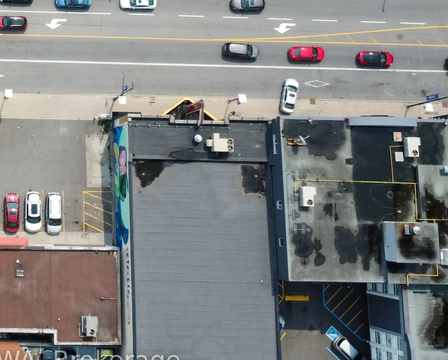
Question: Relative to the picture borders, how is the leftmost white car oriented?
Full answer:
The leftmost white car has been laid out up and down relative to the frame.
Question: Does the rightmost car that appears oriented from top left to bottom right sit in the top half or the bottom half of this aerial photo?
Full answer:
The rightmost car that appears oriented from top left to bottom right is in the bottom half of the image.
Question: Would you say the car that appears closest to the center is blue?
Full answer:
No, the color of the car that appears closest to the center is white.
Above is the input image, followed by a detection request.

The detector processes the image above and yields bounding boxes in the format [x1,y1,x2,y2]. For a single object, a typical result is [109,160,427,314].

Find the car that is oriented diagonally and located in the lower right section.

[330,331,368,360]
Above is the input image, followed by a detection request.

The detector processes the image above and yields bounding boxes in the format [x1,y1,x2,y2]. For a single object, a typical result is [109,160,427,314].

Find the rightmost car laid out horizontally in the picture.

[355,50,394,67]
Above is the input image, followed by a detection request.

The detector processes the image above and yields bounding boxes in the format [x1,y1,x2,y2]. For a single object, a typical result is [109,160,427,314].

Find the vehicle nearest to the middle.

[279,77,300,114]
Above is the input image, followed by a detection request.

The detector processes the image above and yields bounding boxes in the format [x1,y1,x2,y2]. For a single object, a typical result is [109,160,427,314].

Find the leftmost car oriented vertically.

[4,193,21,232]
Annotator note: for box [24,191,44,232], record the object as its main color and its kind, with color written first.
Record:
white car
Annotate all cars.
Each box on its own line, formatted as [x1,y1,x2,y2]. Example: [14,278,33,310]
[228,0,267,13]
[0,13,27,30]
[41,348,56,360]
[118,0,157,10]
[223,43,260,60]
[330,331,368,360]
[279,77,300,114]
[24,191,44,232]
[55,0,92,8]
[286,45,325,62]
[4,193,21,232]
[355,50,394,67]
[62,348,77,360]
[45,192,64,235]
[99,348,114,360]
